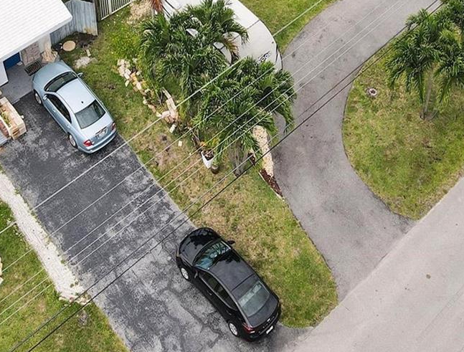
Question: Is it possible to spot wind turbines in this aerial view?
No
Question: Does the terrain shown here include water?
No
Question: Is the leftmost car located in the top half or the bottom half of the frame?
top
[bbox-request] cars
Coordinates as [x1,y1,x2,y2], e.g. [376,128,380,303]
[31,59,119,156]
[178,225,286,348]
